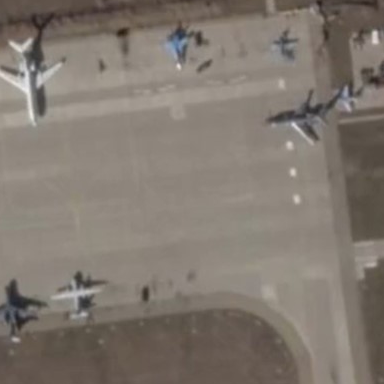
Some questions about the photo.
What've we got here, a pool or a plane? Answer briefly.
plane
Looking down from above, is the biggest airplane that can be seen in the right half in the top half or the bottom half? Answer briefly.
top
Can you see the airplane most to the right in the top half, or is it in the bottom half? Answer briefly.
top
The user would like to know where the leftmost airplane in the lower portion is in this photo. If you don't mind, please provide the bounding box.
[0,293,39,342]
